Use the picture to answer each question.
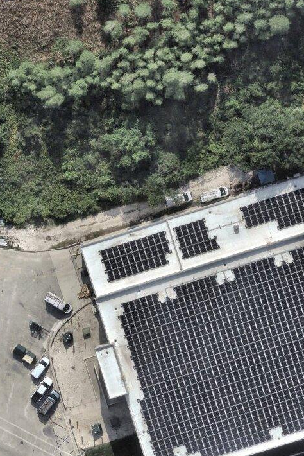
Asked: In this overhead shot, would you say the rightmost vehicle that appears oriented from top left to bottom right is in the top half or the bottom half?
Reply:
bottom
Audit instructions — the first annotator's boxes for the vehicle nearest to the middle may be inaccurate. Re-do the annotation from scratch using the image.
[165,190,192,205]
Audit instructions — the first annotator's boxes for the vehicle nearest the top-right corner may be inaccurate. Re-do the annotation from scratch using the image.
[200,187,228,203]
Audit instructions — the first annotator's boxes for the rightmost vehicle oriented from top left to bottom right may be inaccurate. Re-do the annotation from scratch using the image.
[43,291,70,314]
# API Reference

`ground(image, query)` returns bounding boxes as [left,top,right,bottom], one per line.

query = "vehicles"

[200,187,228,203]
[43,291,70,314]
[30,357,49,381]
[30,378,51,405]
[37,389,58,415]
[165,190,192,205]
